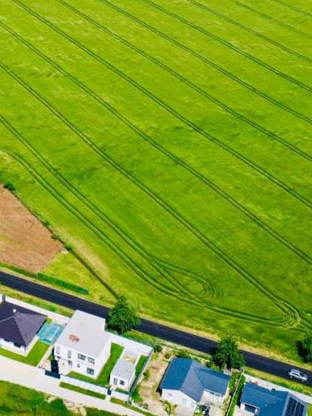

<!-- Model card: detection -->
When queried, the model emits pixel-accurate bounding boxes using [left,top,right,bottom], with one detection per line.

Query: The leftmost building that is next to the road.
[0,300,45,356]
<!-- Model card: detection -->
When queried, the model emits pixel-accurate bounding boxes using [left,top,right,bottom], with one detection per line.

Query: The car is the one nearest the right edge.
[287,367,307,380]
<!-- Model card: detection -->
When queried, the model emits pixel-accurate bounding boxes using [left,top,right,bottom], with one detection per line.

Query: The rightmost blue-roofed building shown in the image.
[240,382,304,416]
